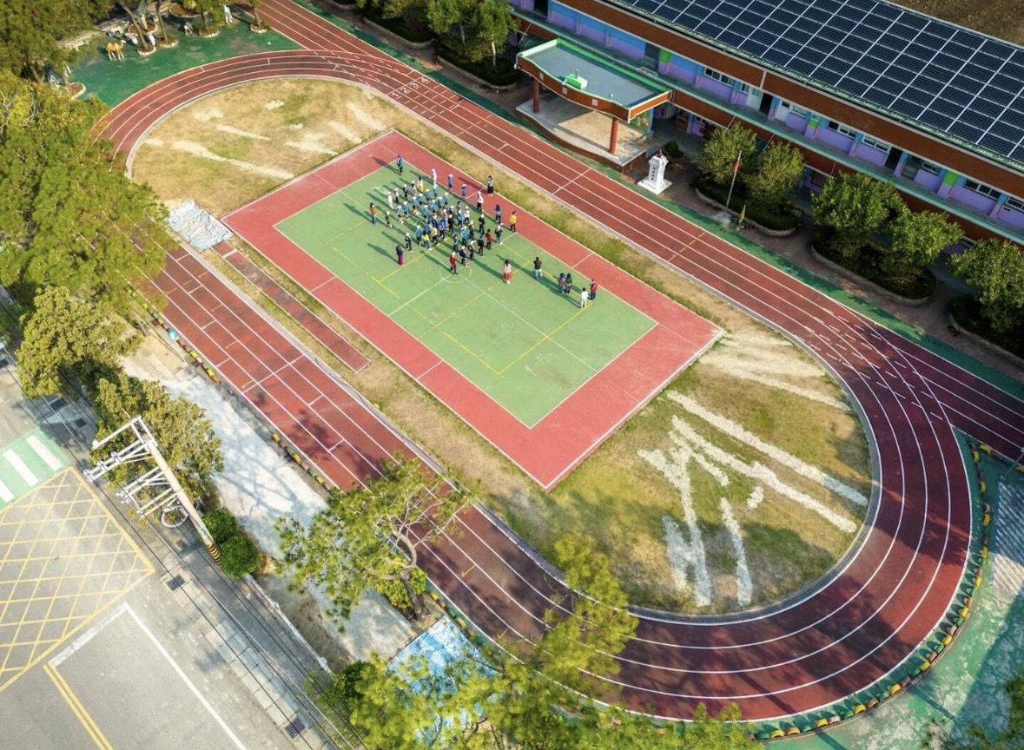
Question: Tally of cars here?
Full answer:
Not a single car can be seen.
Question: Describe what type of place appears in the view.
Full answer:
What you see here is a sports ground.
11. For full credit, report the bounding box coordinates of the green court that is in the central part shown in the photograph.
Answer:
[221,128,726,489]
